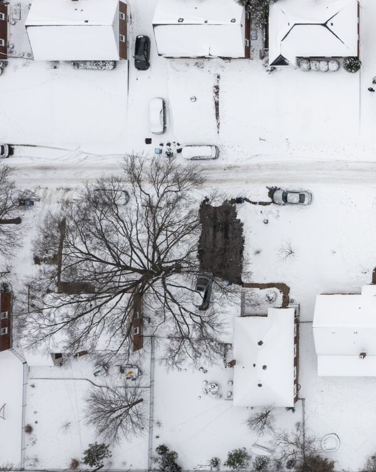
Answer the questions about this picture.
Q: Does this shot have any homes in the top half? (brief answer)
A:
Yes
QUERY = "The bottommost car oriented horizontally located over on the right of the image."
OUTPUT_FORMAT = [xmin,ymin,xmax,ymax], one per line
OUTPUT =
[273,188,313,205]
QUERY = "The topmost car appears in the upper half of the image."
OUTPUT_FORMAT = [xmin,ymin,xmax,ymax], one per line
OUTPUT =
[133,34,152,71]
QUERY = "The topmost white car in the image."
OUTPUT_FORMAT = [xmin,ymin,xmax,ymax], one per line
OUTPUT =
[147,97,167,134]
